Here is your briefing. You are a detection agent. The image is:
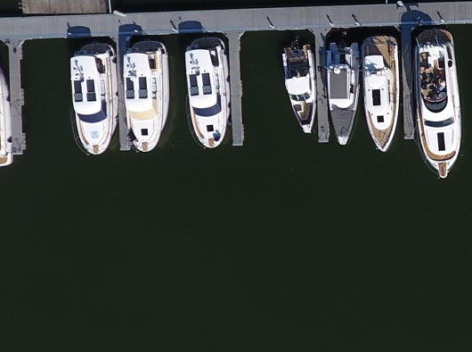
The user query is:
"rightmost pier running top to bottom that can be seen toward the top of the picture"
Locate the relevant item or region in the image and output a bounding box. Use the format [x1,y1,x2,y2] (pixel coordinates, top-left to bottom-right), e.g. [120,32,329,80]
[393,26,417,139]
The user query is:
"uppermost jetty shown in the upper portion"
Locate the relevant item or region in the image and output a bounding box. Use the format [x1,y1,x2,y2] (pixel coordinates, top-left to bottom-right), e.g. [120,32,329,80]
[0,0,472,41]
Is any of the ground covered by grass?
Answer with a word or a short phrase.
No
